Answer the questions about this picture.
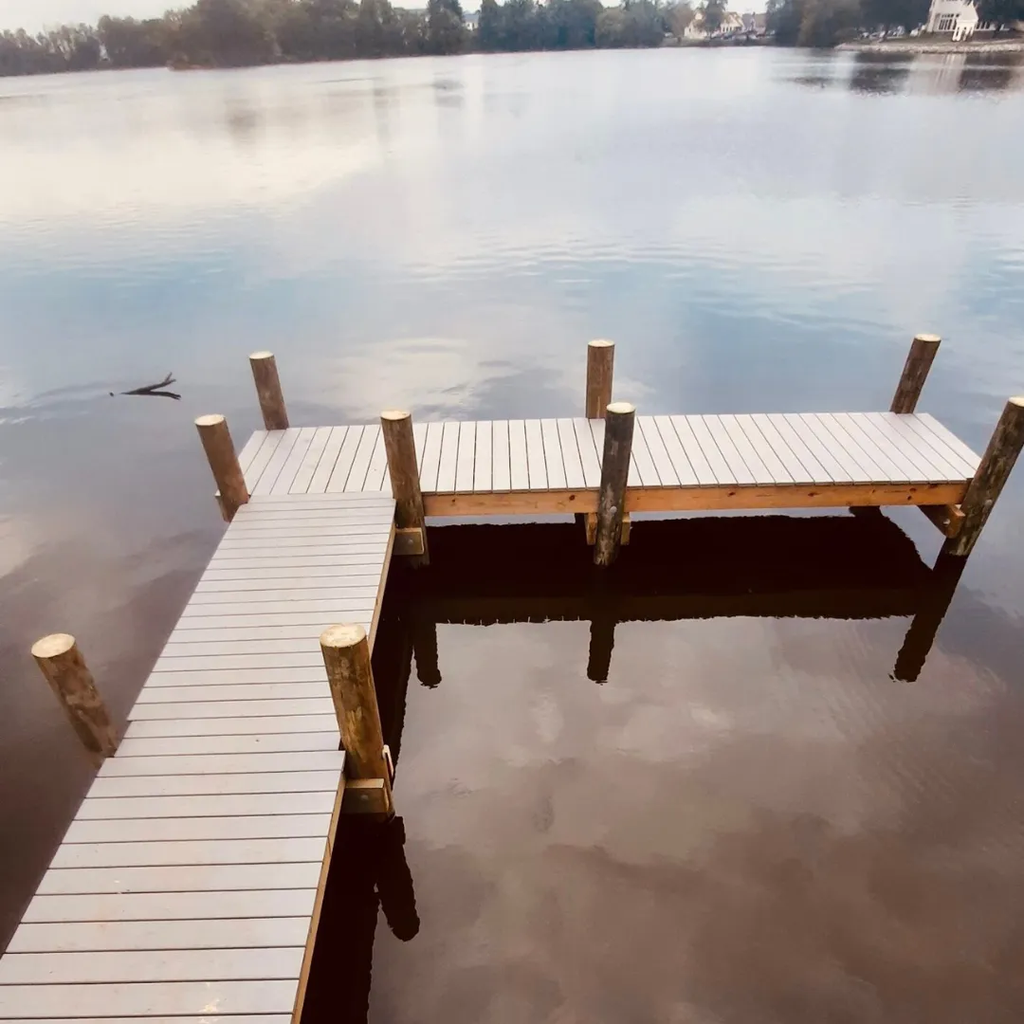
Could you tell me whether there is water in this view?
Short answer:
Yes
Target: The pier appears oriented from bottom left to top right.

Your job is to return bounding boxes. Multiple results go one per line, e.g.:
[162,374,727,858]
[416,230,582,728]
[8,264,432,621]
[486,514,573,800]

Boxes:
[0,333,1024,1024]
